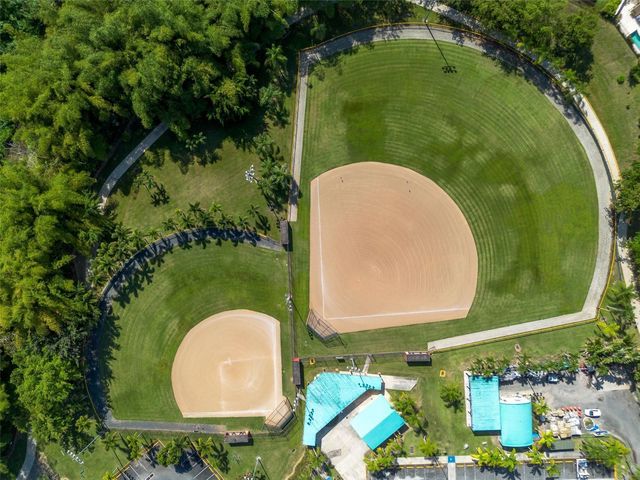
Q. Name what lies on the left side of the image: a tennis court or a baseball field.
baseball field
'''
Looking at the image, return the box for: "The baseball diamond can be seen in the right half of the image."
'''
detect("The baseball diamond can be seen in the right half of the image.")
[289,25,612,358]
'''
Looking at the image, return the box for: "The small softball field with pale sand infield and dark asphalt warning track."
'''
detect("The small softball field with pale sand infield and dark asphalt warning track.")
[88,229,297,434]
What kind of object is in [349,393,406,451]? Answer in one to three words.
building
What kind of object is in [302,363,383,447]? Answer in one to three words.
building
